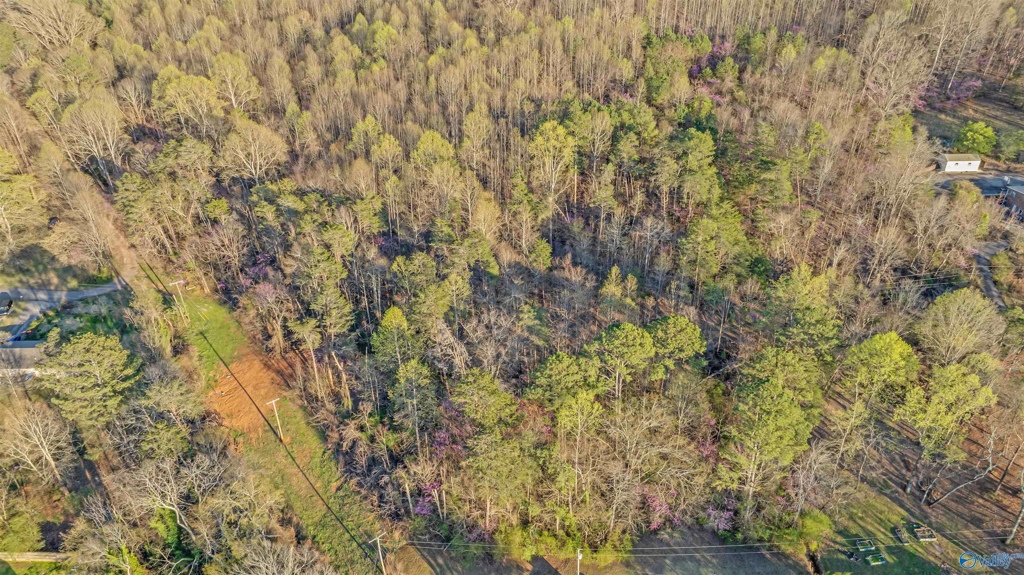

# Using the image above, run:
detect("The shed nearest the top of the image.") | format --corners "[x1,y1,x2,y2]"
[937,154,985,172]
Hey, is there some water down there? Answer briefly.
No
